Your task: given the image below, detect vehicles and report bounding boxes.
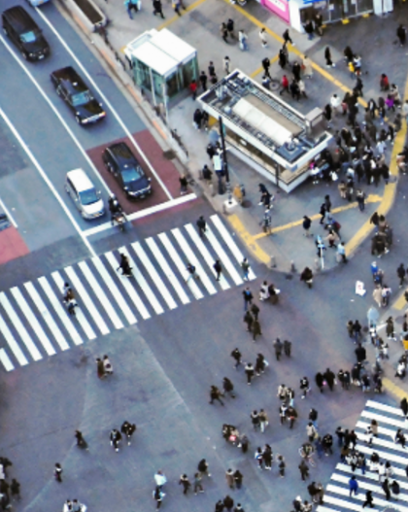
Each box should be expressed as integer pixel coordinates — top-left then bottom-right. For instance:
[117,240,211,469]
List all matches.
[0,0,52,61]
[111,207,124,228]
[49,60,106,124]
[98,132,154,198]
[60,158,106,216]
